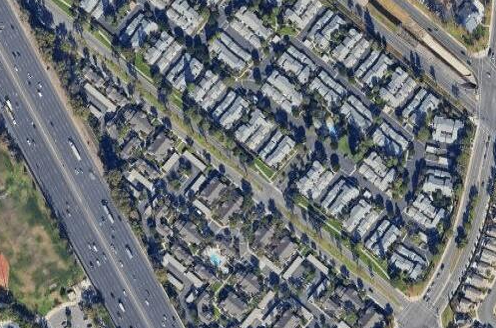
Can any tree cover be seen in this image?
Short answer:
Yes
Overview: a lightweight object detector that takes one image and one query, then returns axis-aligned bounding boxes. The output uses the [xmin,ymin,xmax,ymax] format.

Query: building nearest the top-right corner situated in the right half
[463,0,485,31]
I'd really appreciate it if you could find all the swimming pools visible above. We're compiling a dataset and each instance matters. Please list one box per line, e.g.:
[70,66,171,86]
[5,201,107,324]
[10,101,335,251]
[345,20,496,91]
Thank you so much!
[326,114,339,137]
[206,246,225,266]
